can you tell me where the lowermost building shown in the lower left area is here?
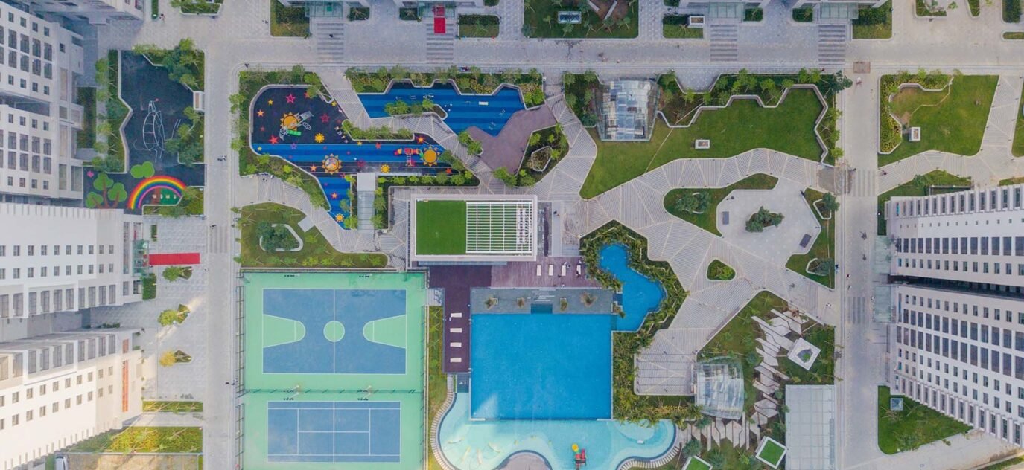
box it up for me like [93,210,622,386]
[0,323,142,470]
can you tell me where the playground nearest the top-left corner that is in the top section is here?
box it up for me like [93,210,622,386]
[83,50,204,216]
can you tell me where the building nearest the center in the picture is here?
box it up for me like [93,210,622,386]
[411,195,537,265]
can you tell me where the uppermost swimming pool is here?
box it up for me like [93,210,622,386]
[599,243,667,332]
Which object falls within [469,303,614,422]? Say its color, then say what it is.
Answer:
blue swimming pool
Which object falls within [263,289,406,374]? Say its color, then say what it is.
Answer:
blue basketball court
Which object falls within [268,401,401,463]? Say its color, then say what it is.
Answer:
blue tennis court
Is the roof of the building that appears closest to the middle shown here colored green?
Yes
